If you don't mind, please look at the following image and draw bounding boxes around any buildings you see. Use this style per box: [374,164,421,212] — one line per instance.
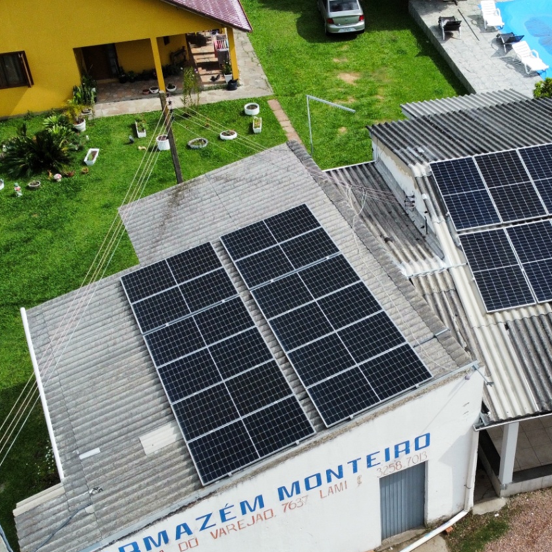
[11,133,512,552]
[0,0,271,119]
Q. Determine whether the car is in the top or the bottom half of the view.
top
